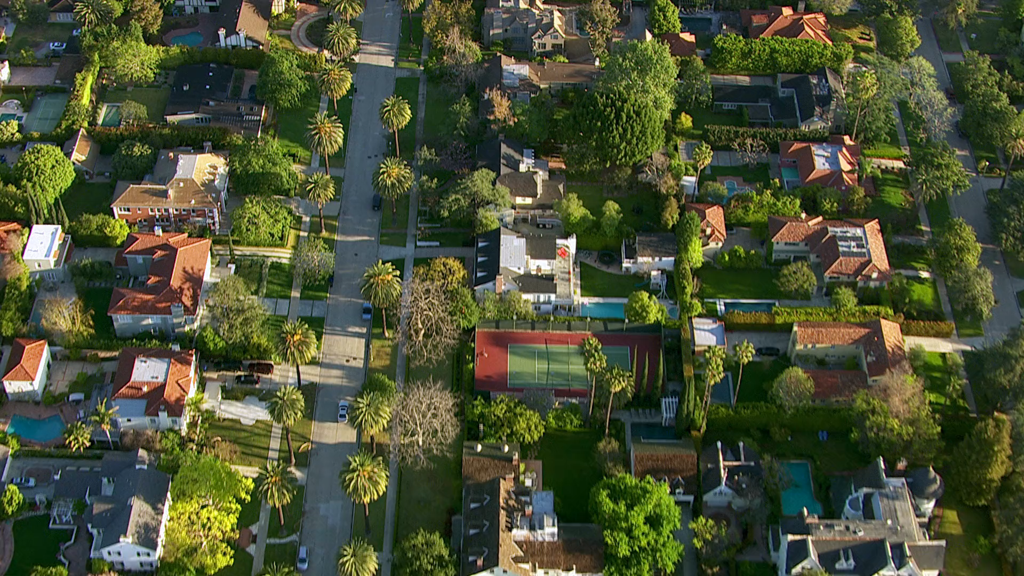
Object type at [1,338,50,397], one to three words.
building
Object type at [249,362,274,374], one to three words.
vehicle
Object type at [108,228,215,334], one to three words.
house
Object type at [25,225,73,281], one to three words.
house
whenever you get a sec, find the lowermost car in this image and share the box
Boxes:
[297,547,309,571]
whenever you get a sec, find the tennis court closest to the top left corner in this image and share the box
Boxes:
[20,88,79,136]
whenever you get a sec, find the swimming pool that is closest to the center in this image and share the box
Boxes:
[578,299,629,318]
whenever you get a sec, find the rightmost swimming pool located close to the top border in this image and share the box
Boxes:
[677,14,715,32]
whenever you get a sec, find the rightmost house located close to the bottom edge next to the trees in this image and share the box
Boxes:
[763,448,947,576]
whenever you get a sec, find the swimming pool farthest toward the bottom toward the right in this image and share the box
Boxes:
[779,461,824,517]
